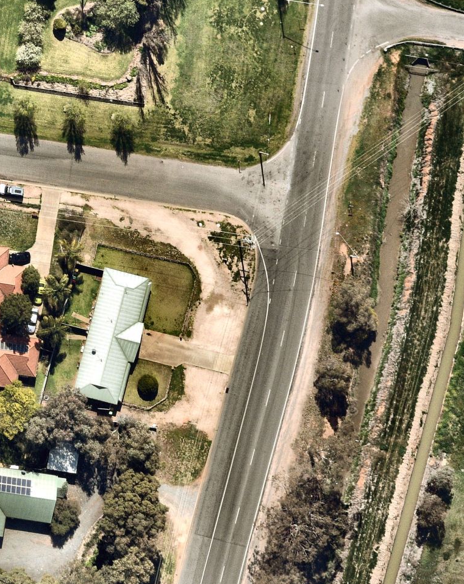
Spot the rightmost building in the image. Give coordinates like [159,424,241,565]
[74,266,152,405]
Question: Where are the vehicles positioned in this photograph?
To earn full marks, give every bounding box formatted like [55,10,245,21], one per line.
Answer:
[26,307,40,329]
[0,185,26,200]
[9,250,32,265]
[34,279,49,306]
